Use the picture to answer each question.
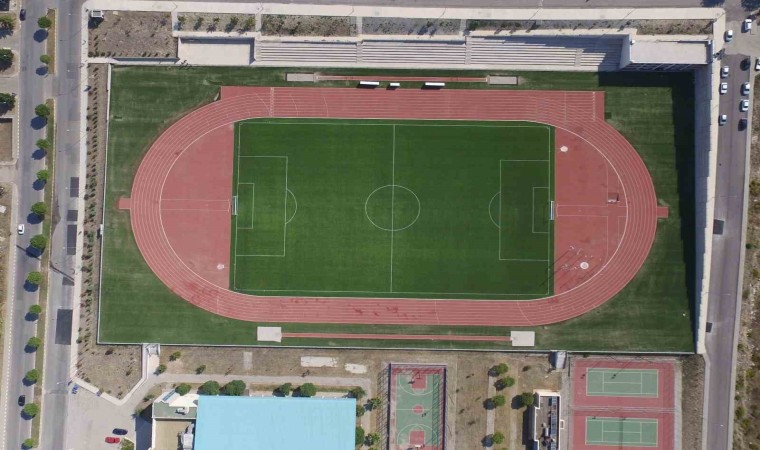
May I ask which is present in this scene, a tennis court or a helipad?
tennis court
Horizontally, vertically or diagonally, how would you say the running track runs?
horizontally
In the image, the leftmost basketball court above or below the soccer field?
below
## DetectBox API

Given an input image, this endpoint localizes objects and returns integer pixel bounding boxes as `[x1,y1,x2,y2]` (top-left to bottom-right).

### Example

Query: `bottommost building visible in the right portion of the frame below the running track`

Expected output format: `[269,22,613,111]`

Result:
[528,389,564,450]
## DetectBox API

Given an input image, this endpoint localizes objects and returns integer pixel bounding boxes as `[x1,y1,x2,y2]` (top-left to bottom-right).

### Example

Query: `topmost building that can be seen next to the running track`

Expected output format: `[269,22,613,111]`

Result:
[620,36,711,73]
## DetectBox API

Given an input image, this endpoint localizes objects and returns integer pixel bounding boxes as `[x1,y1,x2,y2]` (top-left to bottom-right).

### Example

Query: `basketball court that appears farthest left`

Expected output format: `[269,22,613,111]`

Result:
[390,365,444,450]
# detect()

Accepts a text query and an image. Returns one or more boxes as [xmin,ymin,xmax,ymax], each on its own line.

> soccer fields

[232,119,554,299]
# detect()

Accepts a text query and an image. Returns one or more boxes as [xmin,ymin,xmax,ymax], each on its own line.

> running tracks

[118,87,668,324]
